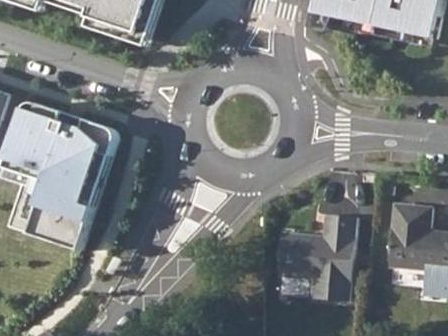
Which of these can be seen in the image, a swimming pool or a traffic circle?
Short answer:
traffic circle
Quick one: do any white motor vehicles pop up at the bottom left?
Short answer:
Yes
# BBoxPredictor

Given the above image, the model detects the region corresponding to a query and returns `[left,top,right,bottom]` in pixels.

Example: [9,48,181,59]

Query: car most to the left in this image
[26,62,49,76]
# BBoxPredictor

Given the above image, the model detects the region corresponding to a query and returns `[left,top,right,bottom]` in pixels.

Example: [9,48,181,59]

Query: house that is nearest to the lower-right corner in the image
[389,216,448,306]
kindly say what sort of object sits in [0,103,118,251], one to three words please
building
